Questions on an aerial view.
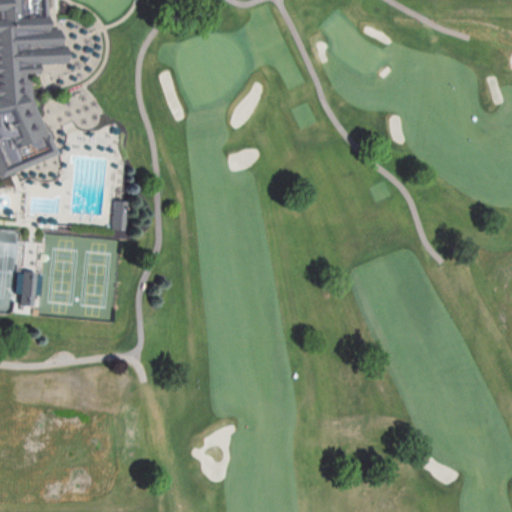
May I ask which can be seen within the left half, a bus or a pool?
pool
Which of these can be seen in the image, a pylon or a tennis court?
tennis court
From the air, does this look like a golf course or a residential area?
golf course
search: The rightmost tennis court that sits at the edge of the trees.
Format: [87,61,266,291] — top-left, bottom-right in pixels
[76,238,118,321]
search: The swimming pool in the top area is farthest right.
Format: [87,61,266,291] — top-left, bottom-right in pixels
[70,156,106,222]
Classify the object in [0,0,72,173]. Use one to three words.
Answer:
building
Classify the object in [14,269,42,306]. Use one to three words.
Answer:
building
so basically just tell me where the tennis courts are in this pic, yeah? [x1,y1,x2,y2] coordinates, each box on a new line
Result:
[0,232,16,314]
[40,235,81,318]
[76,238,118,321]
